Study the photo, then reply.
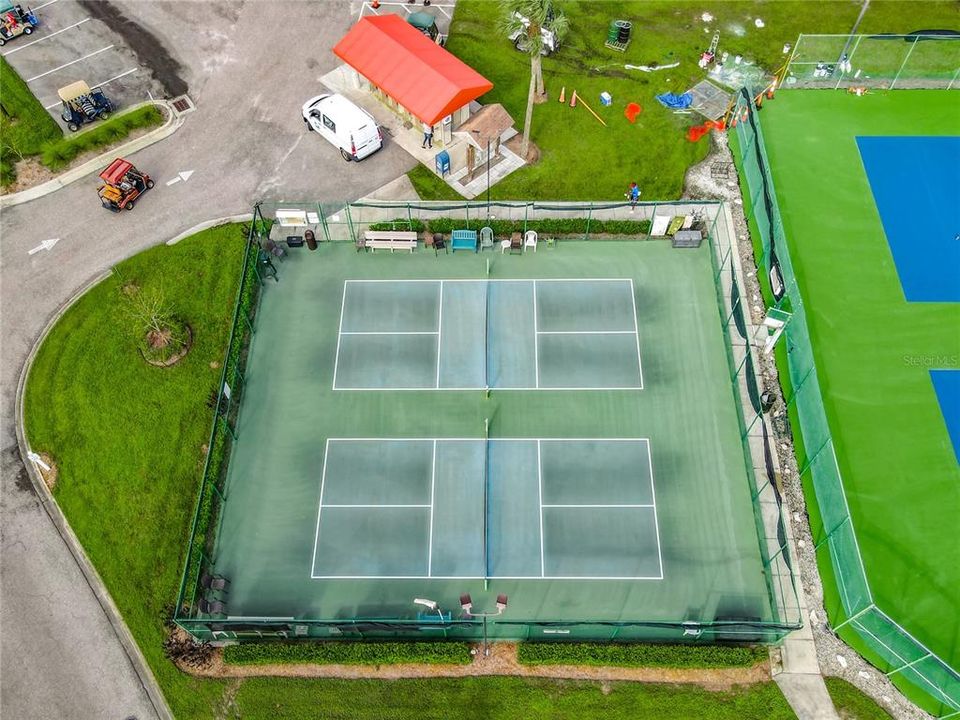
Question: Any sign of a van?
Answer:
Yes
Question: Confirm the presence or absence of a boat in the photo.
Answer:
No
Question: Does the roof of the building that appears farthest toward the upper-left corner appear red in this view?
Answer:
Yes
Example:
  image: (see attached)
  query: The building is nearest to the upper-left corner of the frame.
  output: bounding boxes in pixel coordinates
[334,13,493,149]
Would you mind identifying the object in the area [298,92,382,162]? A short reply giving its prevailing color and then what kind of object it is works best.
white van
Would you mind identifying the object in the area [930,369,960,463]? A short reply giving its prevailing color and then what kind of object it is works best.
blue tennis court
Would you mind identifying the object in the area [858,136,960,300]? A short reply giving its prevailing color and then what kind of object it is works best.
blue tennis court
